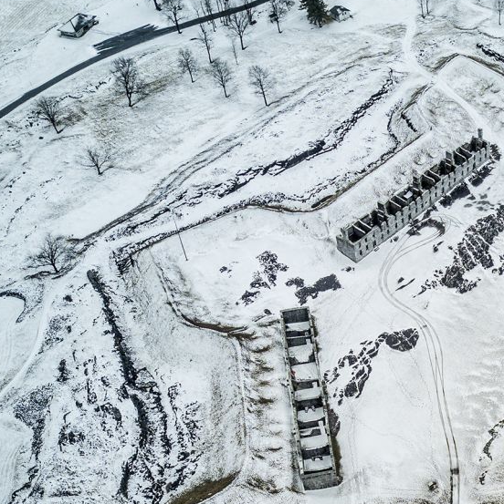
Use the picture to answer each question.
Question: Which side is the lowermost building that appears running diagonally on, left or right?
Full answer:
The lowermost building that appears running diagonally sits on the right side.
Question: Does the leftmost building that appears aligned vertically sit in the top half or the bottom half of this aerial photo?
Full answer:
Seen from above, the leftmost building that appears aligned vertically lies in the bottom half of the view.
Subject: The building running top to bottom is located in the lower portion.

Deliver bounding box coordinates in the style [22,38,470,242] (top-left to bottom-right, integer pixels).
[281,306,339,486]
